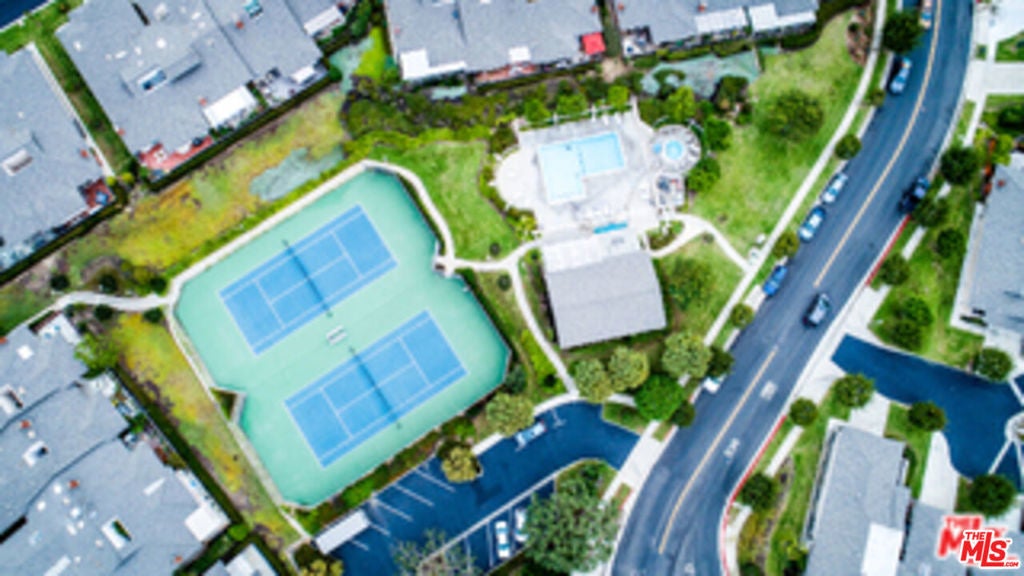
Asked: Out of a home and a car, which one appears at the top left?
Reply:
home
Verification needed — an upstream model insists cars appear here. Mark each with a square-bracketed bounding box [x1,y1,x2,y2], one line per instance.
[888,60,913,94]
[898,179,924,212]
[805,293,829,327]
[496,520,511,556]
[763,264,788,296]
[799,207,825,240]
[515,508,529,540]
[918,0,934,26]
[823,171,848,202]
[706,371,725,390]
[514,421,545,445]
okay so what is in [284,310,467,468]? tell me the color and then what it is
blue tennis court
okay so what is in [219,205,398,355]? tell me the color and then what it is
blue tennis court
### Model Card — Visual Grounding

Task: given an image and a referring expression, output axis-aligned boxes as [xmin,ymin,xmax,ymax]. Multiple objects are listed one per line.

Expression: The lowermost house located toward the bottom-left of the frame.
[205,542,276,576]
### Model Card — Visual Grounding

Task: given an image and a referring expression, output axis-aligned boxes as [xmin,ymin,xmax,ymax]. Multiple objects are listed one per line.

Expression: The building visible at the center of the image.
[542,228,667,348]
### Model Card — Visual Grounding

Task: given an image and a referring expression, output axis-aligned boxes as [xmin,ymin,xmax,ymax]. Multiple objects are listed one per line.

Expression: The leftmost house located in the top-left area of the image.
[0,44,108,258]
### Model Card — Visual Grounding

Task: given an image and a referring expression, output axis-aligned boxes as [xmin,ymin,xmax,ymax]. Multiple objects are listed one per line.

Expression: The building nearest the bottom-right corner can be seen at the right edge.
[898,501,1024,576]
